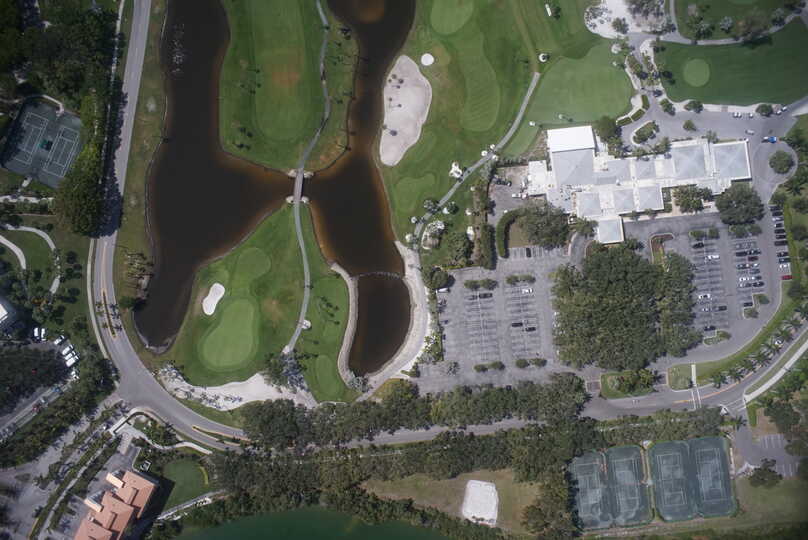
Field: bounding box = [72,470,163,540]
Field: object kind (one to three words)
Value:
building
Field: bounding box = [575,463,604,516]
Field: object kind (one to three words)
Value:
tennis court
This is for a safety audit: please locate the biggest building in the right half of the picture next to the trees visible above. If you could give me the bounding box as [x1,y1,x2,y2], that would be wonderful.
[528,126,752,246]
